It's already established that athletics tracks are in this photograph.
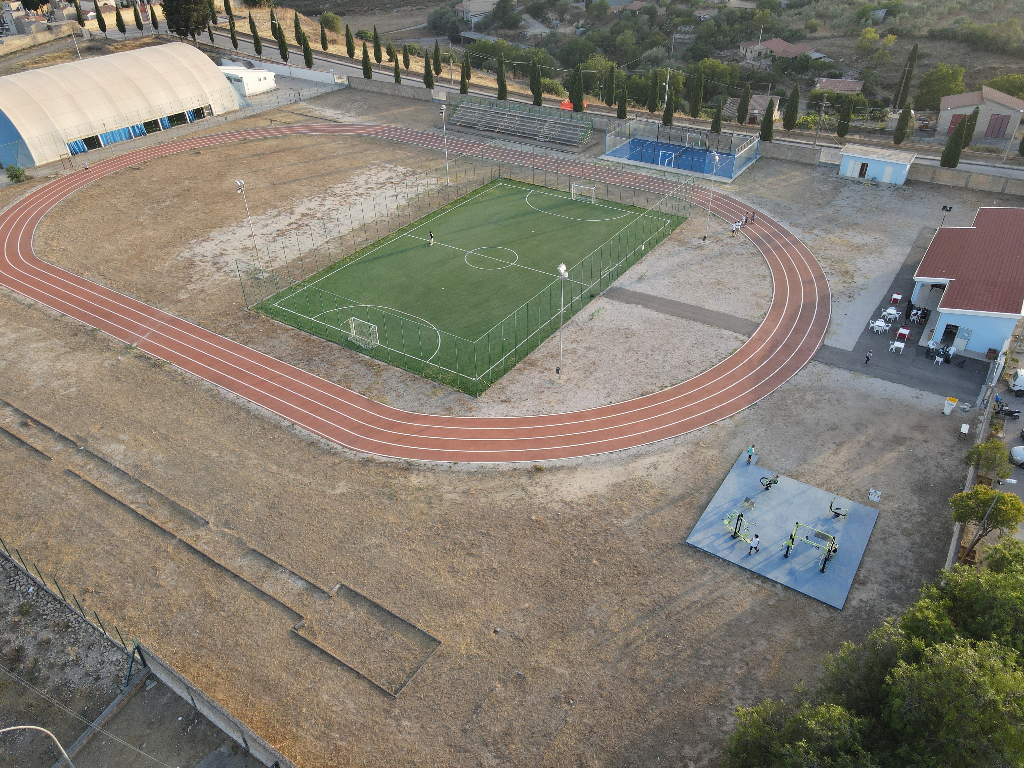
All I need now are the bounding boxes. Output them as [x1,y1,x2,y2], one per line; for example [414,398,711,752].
[0,124,834,465]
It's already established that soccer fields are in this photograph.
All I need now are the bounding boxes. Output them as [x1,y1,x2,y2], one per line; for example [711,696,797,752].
[251,178,687,394]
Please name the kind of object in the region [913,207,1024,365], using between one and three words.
building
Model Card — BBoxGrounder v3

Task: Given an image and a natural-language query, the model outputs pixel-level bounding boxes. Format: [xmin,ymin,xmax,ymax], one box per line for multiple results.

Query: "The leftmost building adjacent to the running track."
[0,42,248,166]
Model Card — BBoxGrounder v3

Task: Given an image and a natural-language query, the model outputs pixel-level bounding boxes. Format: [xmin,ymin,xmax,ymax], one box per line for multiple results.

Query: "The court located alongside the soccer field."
[595,104,765,182]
